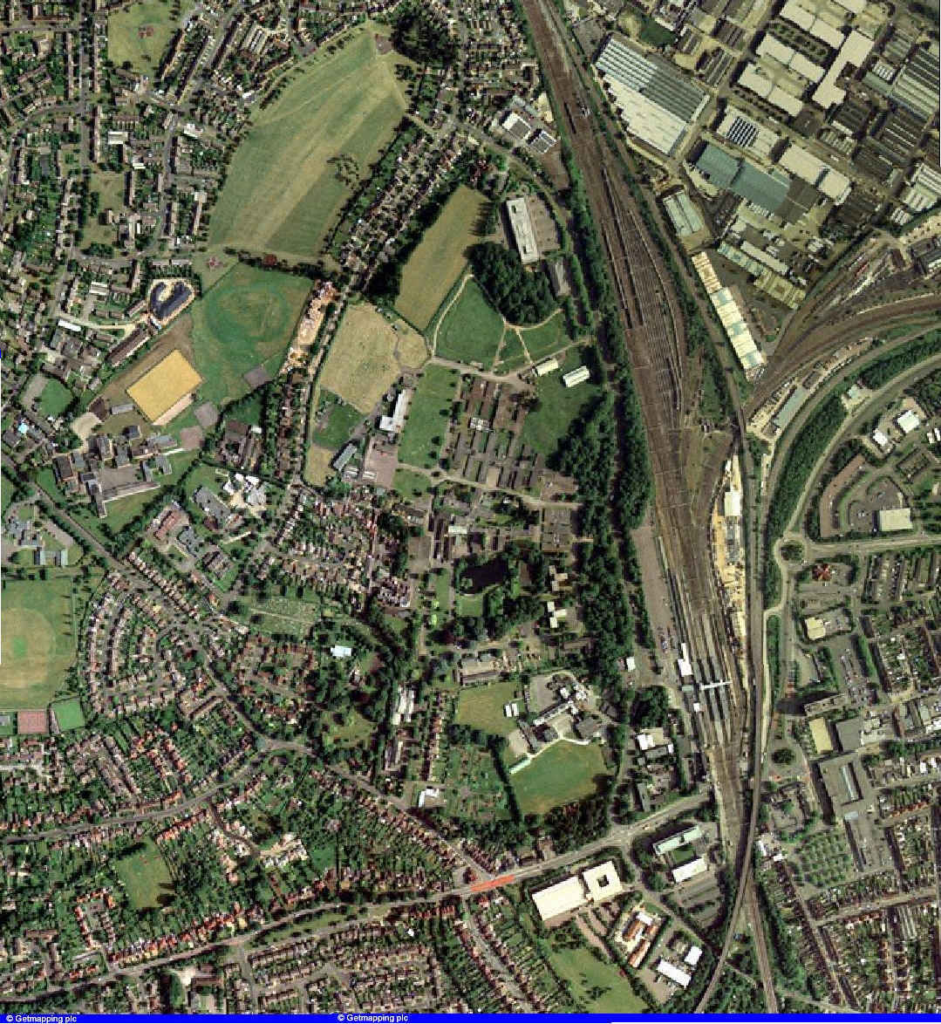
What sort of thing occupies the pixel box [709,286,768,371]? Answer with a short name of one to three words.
building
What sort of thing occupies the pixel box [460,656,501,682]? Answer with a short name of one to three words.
house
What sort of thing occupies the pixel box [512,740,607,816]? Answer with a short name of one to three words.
sports field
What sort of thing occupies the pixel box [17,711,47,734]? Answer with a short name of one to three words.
tennis court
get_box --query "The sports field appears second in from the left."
[194,265,311,406]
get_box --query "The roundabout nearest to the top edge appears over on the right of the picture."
[776,535,808,566]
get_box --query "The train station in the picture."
[678,603,733,752]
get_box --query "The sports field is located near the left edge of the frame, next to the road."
[0,580,78,707]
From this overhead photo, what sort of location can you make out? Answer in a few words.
residential area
